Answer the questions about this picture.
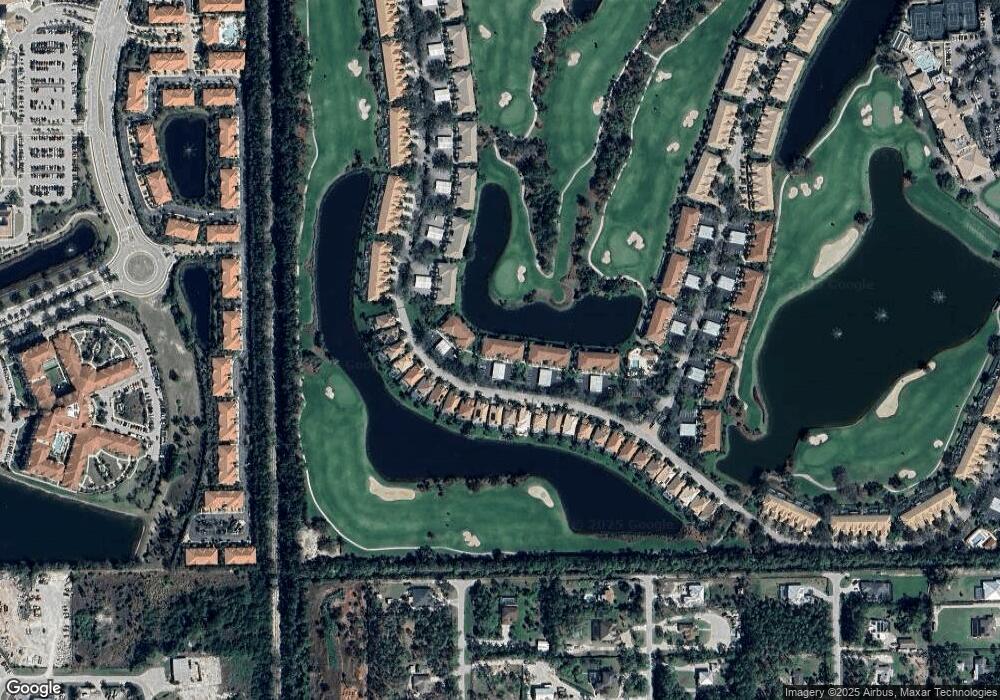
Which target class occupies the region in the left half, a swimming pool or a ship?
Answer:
swimming pool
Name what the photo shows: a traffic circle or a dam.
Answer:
traffic circle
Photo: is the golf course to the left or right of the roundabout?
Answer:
on the right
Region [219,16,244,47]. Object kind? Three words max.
swimming pool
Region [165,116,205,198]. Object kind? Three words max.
pond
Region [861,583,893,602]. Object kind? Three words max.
house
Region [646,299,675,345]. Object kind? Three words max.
building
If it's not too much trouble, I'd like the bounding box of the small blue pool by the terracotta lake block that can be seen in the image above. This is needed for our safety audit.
[629,348,658,376]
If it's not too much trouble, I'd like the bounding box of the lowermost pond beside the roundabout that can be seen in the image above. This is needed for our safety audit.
[181,264,209,355]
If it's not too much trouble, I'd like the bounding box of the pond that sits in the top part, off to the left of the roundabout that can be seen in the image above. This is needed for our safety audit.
[0,220,97,293]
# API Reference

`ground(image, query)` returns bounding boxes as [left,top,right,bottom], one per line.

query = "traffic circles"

[108,225,172,299]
